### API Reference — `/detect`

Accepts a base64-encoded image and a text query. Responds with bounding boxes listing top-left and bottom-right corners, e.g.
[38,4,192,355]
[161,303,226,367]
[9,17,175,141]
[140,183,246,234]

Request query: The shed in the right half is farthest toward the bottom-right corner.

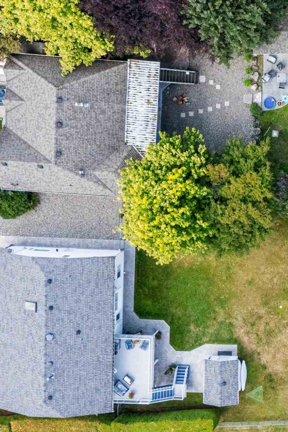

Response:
[204,357,238,407]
